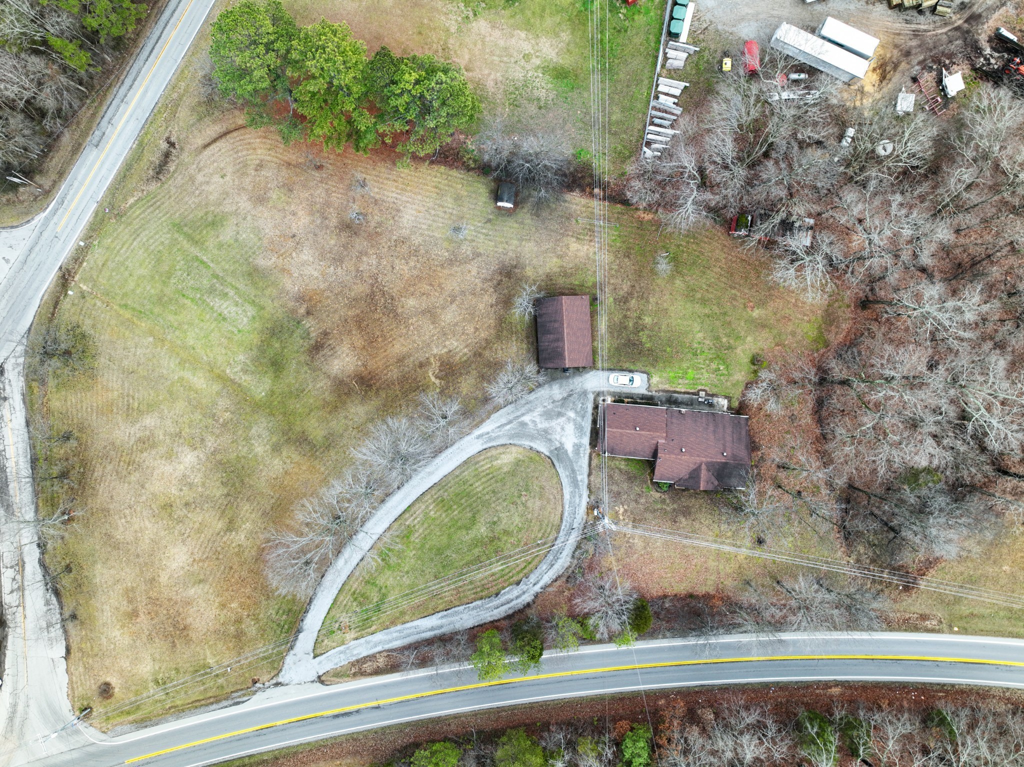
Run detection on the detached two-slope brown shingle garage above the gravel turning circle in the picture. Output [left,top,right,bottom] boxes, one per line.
[536,296,593,369]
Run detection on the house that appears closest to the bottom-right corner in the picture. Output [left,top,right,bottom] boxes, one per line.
[596,403,751,491]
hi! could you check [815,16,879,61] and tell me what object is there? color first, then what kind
white trailer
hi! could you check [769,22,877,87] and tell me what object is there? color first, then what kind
white trailer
